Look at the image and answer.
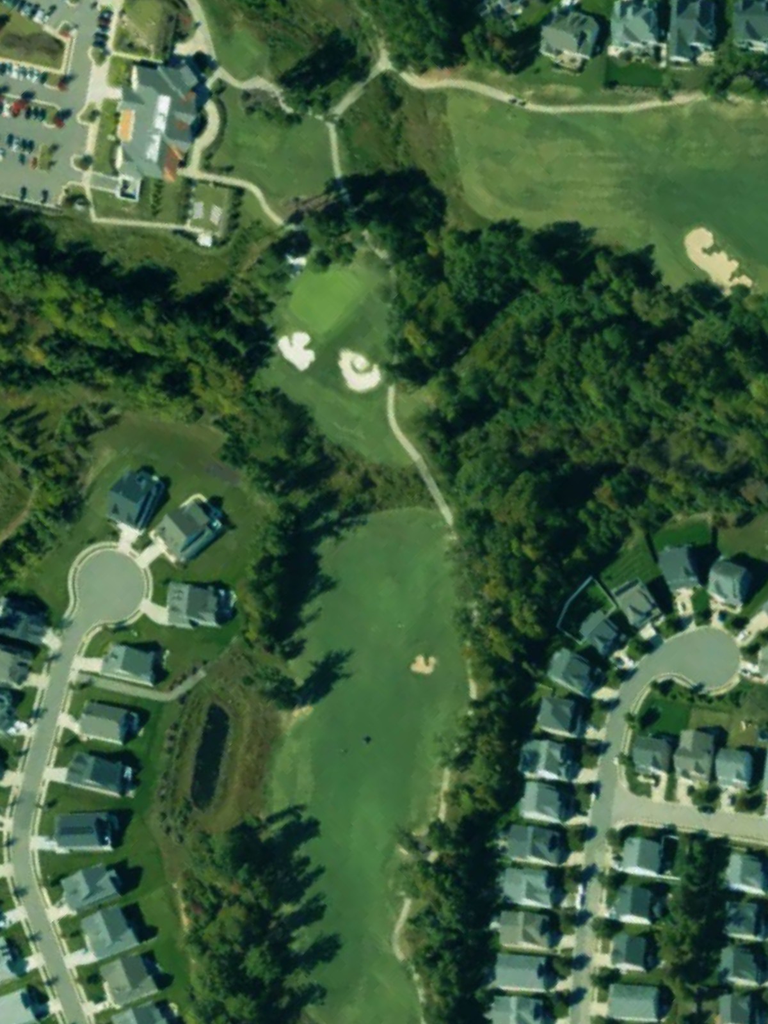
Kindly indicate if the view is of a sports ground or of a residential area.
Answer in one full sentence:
What you see here is a residential area.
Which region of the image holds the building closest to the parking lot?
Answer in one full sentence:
The building closest to the parking lot appears toward the top left of the photo.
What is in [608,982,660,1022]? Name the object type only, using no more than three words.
house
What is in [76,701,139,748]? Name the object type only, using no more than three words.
house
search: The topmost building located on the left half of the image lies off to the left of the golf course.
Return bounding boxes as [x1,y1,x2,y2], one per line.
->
[108,60,209,187]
